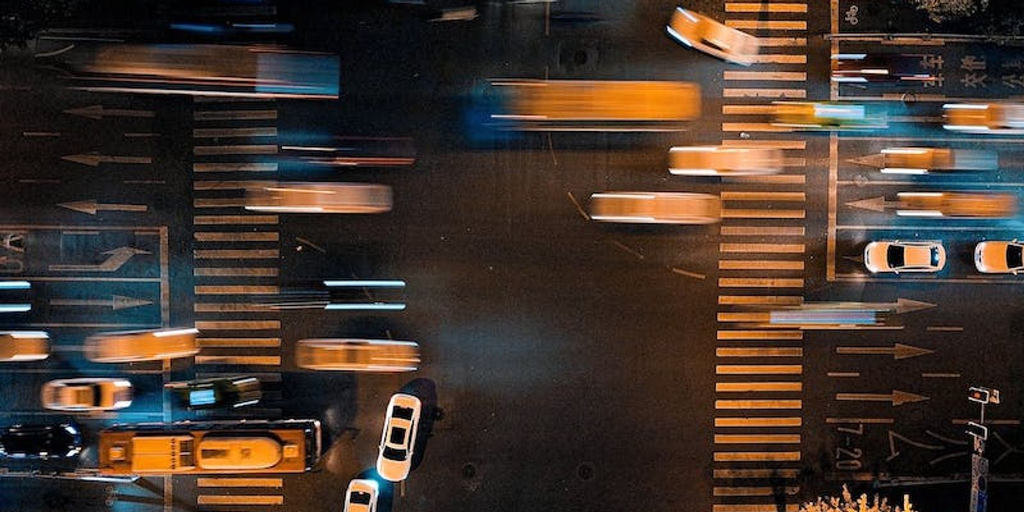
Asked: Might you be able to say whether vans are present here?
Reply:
Yes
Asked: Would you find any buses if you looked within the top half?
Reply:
Yes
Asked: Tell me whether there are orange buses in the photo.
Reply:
Yes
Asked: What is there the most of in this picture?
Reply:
paved ground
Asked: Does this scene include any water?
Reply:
No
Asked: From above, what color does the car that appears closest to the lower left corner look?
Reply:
black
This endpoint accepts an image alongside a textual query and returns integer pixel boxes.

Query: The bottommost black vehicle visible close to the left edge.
[0,421,89,461]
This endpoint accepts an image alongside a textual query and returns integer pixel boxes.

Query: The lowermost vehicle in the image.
[344,474,382,512]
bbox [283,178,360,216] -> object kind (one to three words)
car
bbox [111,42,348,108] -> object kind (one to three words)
bus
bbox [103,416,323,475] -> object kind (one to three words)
bus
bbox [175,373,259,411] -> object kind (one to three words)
car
